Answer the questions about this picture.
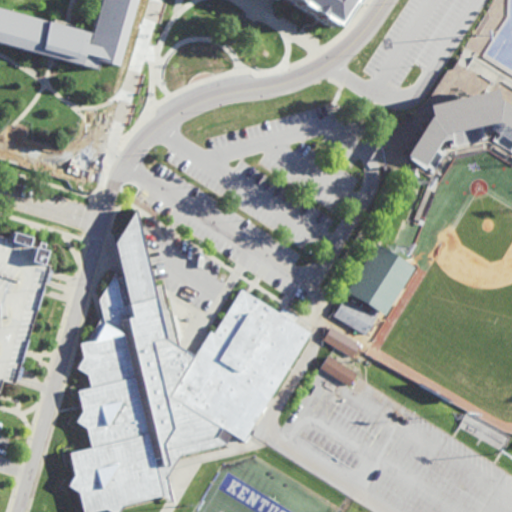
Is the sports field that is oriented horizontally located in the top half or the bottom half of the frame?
bottom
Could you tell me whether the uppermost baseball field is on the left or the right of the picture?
right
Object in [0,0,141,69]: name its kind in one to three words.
building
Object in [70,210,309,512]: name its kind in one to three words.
building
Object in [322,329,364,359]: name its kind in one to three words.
house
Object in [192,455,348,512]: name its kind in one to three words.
sports field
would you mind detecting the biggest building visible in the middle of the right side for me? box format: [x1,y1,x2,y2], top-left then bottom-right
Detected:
[352,245,416,315]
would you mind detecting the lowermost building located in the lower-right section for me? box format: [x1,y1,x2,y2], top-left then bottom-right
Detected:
[458,414,509,449]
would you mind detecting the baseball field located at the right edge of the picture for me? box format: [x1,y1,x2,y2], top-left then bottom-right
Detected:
[366,152,512,434]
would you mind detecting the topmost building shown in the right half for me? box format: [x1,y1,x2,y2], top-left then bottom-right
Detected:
[303,0,356,29]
